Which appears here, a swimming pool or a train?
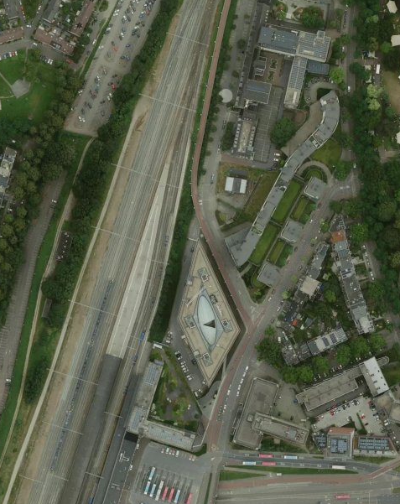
train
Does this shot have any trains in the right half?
No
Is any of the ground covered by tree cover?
Yes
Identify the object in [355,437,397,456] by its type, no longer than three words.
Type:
building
